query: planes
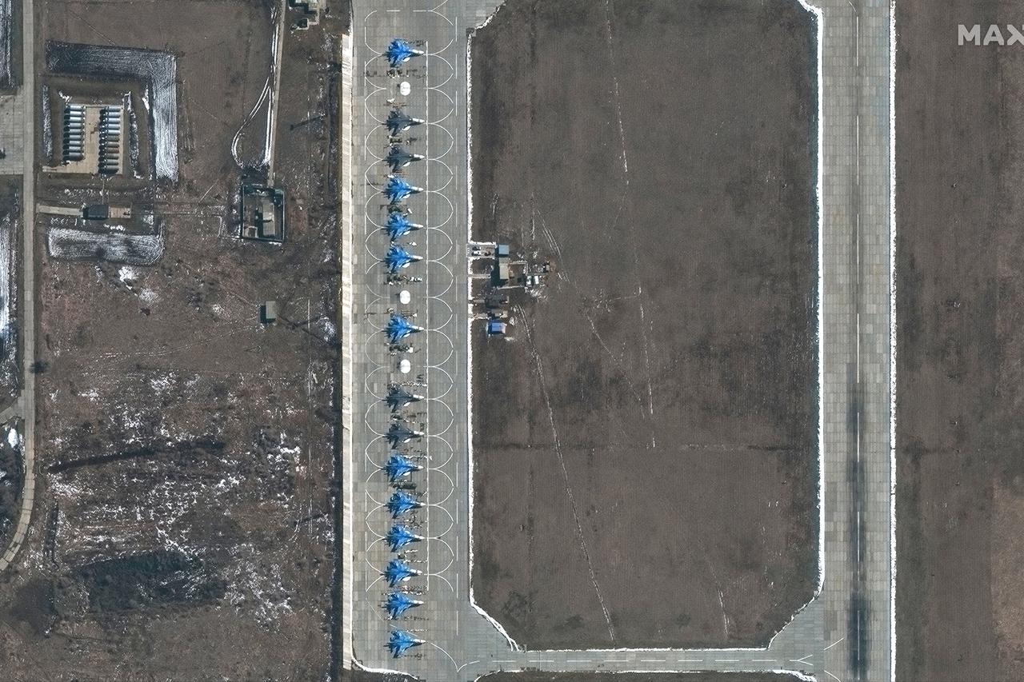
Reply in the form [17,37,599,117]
[386,109,425,133]
[387,492,426,517]
[384,590,423,615]
[384,246,423,270]
[385,385,424,409]
[387,629,426,654]
[385,40,424,64]
[385,214,423,239]
[386,145,425,169]
[385,316,424,341]
[383,560,422,585]
[385,421,424,446]
[384,455,423,480]
[385,525,425,550]
[384,177,423,201]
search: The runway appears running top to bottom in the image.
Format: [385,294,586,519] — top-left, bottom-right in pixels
[802,0,892,682]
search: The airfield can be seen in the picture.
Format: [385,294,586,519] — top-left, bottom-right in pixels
[352,0,892,682]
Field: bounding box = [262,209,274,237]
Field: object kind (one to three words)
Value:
building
